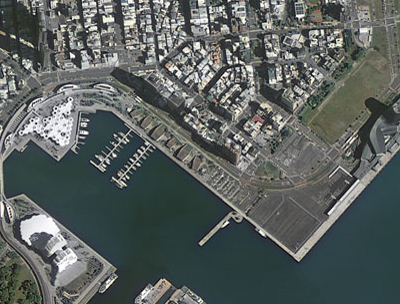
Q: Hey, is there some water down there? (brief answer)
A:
Yes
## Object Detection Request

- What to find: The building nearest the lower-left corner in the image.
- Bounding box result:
[20,215,87,285]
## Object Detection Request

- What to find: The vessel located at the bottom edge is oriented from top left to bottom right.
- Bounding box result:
[182,285,207,304]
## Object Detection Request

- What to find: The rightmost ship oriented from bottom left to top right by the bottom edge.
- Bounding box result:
[136,283,151,303]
